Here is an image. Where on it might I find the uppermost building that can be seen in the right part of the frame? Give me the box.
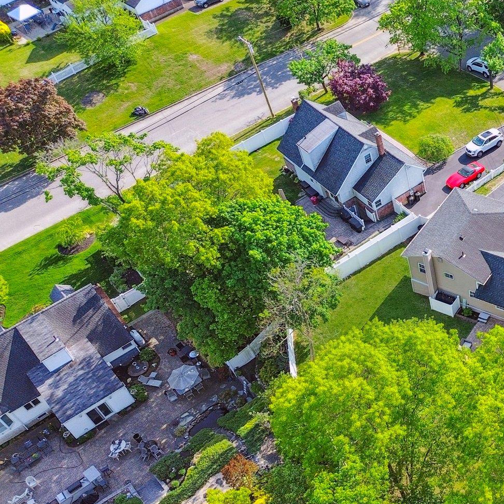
[275,93,429,220]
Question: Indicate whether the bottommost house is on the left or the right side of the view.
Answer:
left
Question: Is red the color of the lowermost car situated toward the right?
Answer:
Yes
